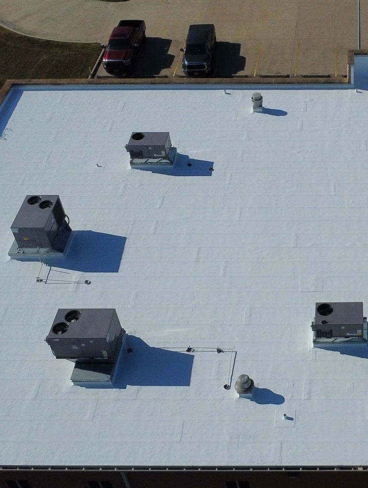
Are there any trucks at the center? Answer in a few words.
No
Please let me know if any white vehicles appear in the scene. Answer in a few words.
No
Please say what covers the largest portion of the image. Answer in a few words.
buildings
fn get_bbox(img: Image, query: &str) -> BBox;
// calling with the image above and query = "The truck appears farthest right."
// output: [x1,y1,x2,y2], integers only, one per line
[177,24,219,76]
